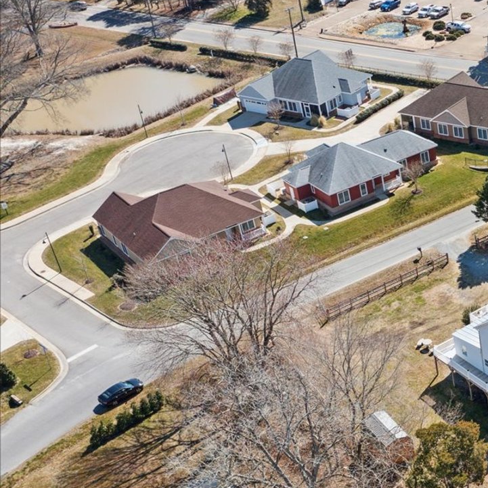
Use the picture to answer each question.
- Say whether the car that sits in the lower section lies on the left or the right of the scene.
left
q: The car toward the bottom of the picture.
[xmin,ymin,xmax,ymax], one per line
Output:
[89,373,149,403]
